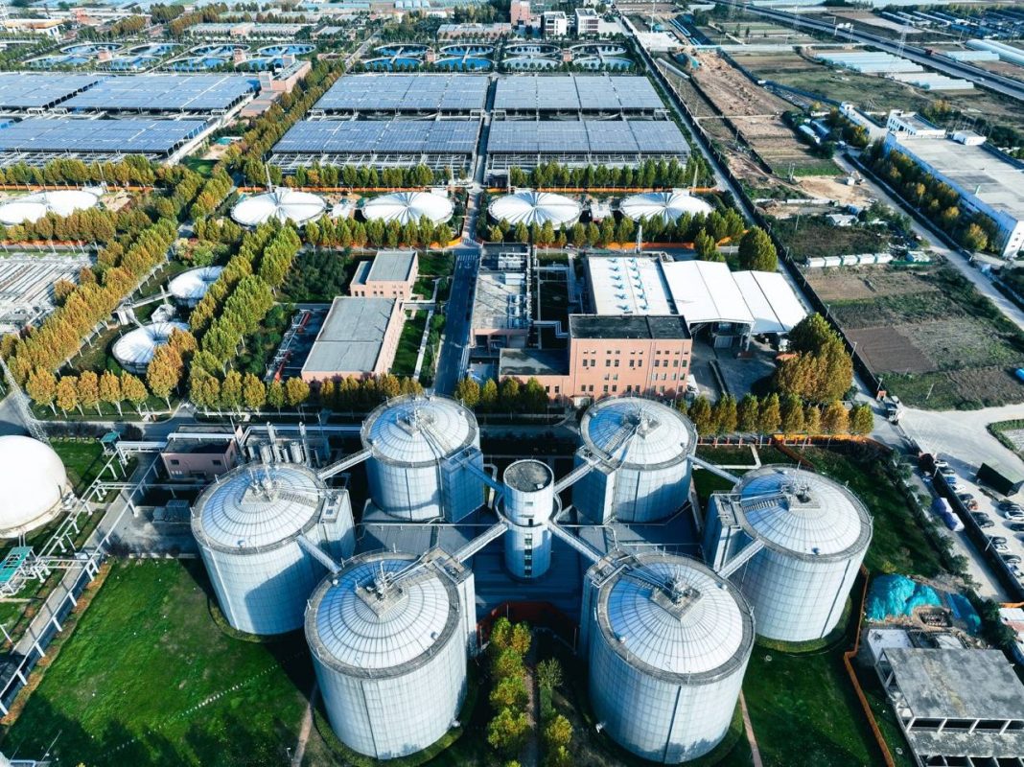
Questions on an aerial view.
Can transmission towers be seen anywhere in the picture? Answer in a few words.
Yes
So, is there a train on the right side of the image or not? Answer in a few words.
No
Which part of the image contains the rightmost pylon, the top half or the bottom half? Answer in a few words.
top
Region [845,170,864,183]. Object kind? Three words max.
vehicle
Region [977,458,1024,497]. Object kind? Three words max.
shed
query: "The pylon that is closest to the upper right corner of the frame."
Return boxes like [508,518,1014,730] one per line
[888,12,913,75]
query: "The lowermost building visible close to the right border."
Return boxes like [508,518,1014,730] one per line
[859,648,1024,767]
